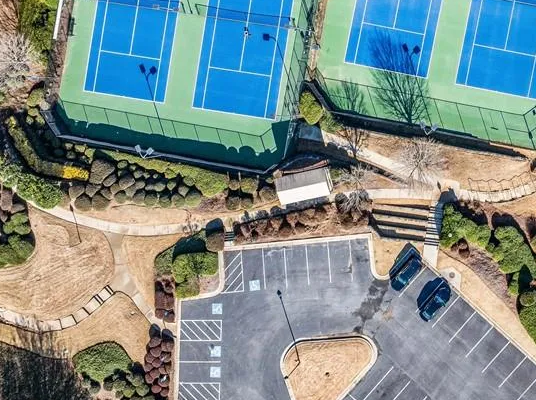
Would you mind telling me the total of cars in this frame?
2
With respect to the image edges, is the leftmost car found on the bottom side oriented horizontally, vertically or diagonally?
diagonally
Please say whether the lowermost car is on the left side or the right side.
right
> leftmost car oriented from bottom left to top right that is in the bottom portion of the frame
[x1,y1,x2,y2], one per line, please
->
[389,253,425,291]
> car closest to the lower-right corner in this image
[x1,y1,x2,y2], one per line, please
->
[418,283,453,321]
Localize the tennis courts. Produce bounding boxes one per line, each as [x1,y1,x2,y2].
[432,0,536,148]
[171,0,315,171]
[311,0,457,129]
[57,0,194,154]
